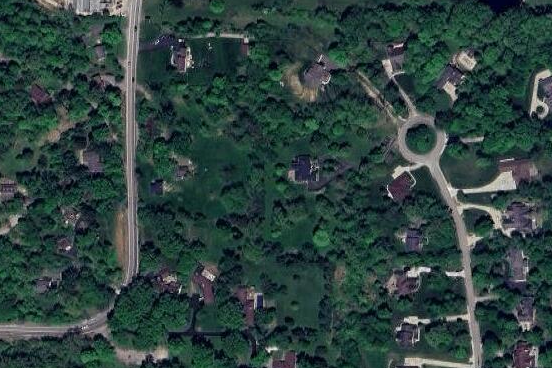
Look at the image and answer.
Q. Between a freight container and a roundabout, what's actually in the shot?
roundabout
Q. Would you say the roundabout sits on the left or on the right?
right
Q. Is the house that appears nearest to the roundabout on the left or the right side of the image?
right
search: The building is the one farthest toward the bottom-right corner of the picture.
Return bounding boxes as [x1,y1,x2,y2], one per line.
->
[511,341,535,368]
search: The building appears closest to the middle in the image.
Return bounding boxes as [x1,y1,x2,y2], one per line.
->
[293,156,318,182]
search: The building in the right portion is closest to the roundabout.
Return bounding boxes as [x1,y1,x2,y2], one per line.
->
[386,172,413,201]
